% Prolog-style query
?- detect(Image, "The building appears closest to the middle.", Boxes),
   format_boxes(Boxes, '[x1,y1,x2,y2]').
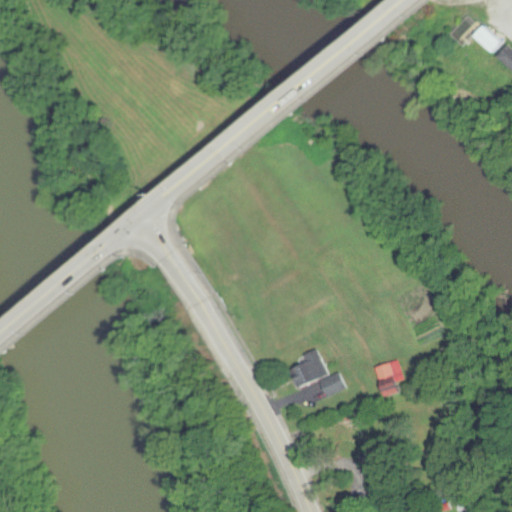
[292,348,328,387]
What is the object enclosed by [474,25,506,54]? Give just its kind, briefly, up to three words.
building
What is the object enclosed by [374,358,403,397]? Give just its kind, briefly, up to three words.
barn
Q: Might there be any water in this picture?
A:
Yes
